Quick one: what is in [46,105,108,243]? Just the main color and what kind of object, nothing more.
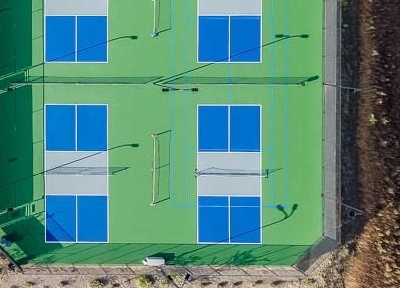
blue sports court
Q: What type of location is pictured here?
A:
sports ground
